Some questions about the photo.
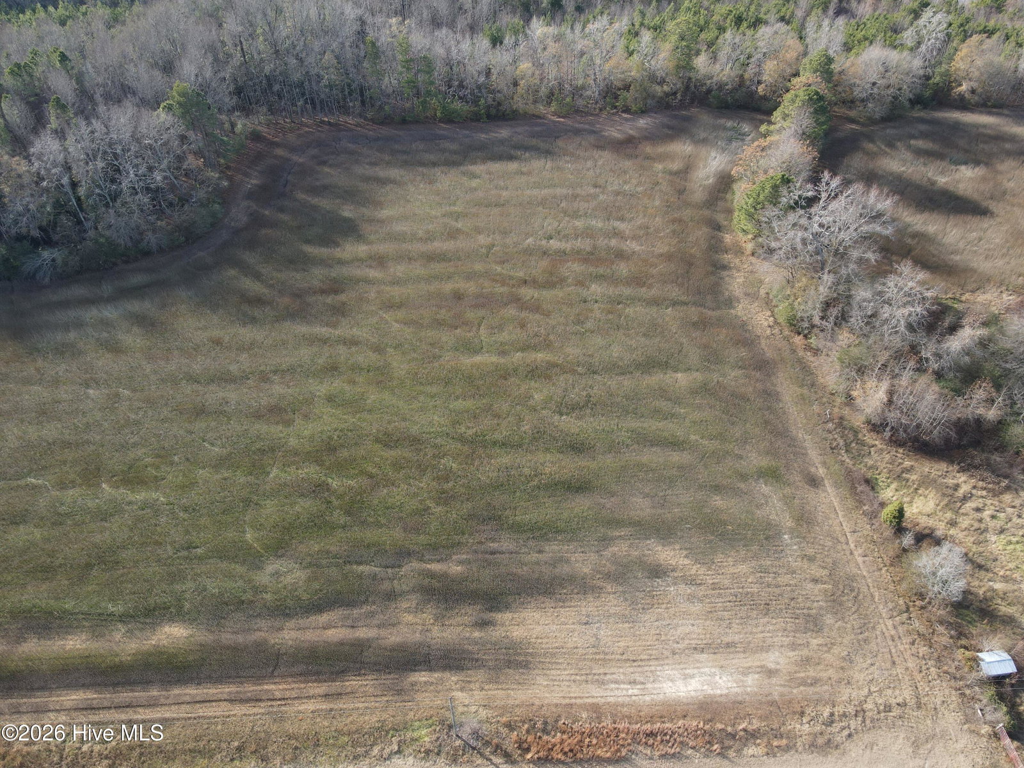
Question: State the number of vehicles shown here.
zero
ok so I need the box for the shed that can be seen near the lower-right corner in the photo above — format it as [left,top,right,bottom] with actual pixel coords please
[971,651,1018,681]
